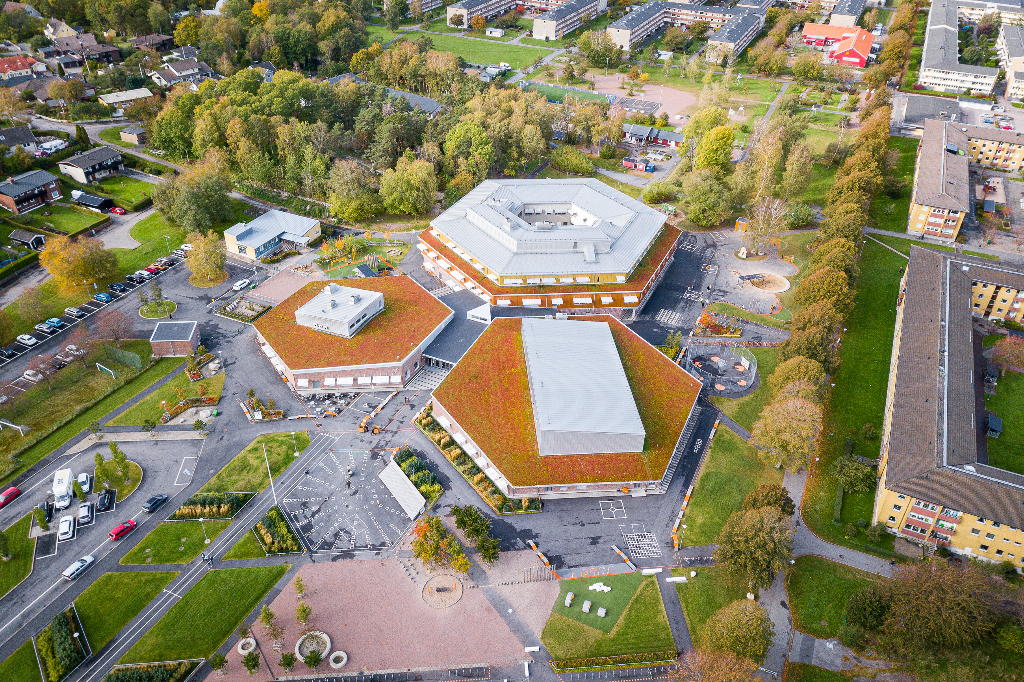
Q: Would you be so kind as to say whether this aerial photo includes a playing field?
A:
Yes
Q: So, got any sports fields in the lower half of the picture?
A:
Yes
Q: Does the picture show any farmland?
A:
No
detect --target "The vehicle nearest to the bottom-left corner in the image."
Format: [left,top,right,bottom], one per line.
[59,556,95,582]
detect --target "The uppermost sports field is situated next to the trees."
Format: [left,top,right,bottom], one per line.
[558,69,697,126]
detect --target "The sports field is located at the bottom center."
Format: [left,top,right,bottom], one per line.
[552,571,643,633]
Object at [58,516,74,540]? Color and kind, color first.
white car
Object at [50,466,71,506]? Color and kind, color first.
white truck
